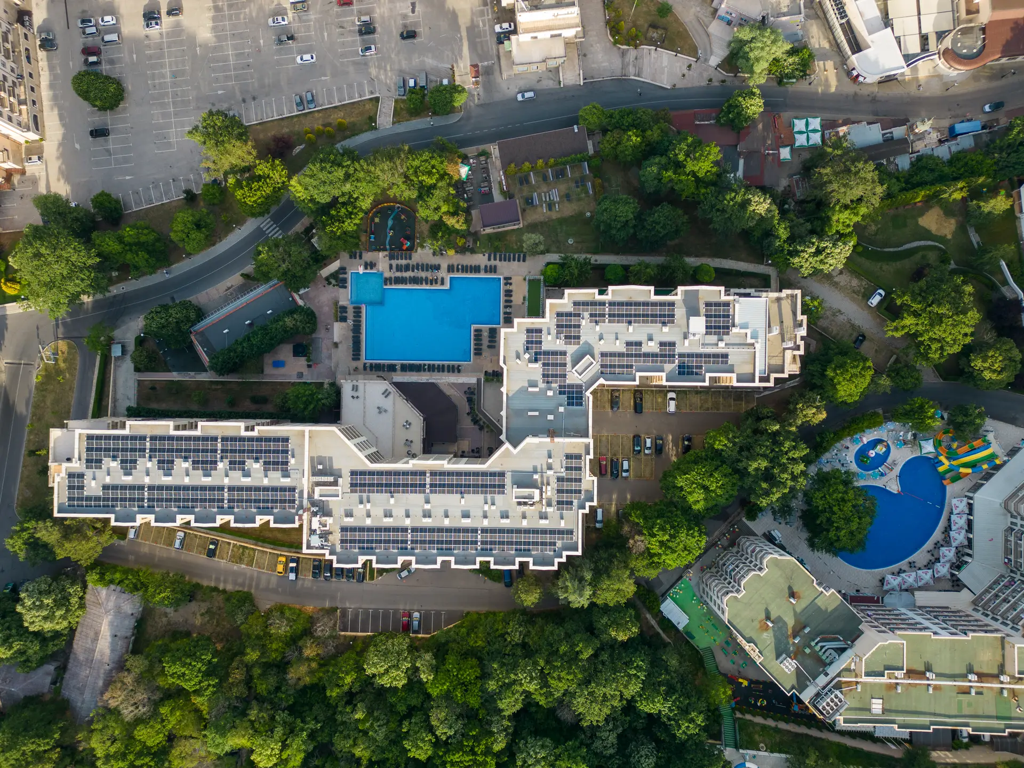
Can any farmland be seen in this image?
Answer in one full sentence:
No, there's no farmland in this view.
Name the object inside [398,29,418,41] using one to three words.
vehicle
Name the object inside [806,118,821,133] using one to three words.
umbrella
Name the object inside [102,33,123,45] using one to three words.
vehicle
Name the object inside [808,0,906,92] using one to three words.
building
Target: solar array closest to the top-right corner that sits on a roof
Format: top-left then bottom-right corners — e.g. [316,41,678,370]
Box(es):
[702,302,730,336]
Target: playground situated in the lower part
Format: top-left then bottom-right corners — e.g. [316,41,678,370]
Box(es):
[731,675,838,729]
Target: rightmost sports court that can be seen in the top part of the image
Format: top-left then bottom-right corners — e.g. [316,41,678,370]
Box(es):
[525,274,544,318]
